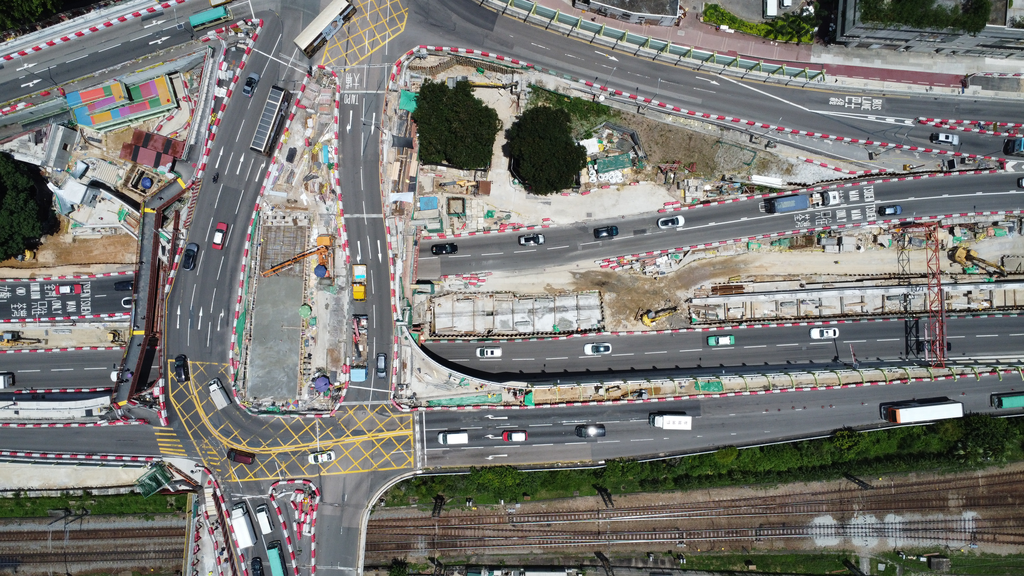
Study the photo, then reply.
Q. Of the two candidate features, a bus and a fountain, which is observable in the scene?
bus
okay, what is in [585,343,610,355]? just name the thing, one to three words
vehicle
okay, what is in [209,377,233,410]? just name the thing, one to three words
truck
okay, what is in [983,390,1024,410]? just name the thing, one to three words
vehicle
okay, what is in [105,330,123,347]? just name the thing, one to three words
work vehicle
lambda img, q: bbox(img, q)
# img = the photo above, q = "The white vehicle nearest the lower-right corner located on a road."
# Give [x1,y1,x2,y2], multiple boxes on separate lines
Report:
[876,400,964,425]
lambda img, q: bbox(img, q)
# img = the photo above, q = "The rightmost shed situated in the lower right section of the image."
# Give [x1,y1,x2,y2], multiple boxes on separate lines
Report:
[923,553,950,571]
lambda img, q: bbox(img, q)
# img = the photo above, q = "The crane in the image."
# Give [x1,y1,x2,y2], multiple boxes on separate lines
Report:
[259,231,344,282]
